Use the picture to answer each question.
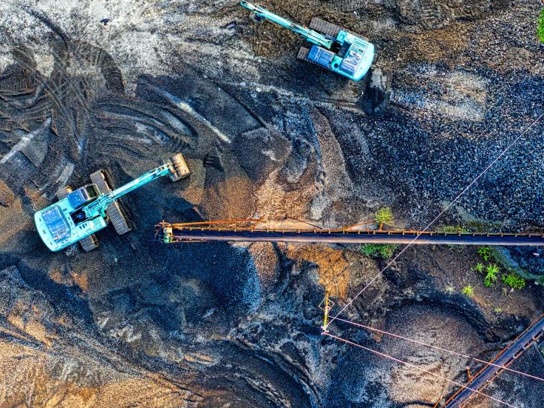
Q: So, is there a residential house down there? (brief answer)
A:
No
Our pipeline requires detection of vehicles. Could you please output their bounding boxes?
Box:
[252,0,380,82]
[40,153,201,254]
